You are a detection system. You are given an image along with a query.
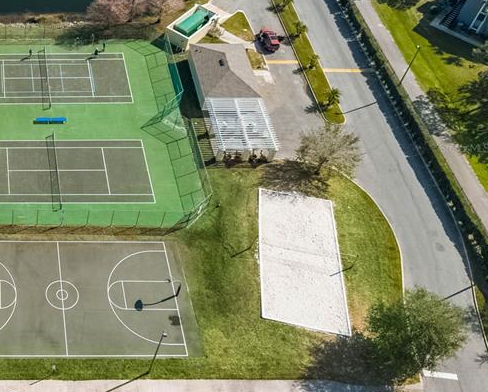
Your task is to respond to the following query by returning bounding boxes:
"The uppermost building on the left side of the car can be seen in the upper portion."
[186,44,263,112]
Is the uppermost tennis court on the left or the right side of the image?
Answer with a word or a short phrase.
left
